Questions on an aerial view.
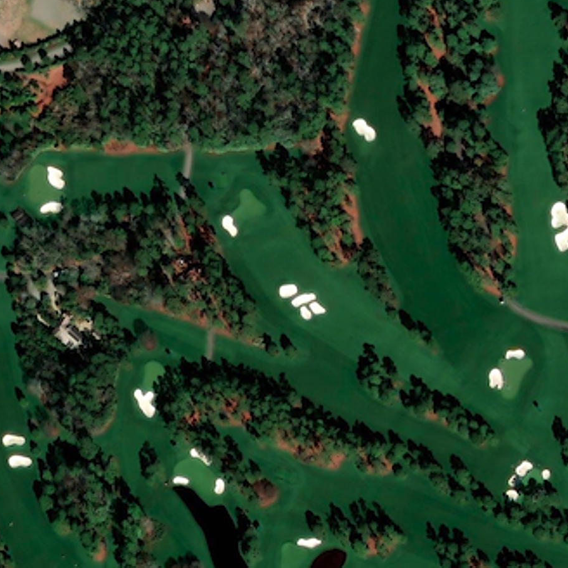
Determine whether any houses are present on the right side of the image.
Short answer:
No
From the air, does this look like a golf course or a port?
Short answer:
golf course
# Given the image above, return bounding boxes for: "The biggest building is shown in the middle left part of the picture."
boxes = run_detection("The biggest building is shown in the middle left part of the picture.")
[56,314,82,347]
